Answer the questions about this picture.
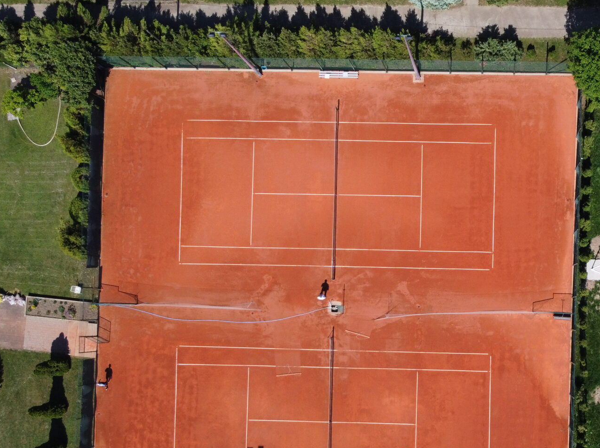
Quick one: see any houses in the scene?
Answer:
No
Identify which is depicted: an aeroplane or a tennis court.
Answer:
tennis court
